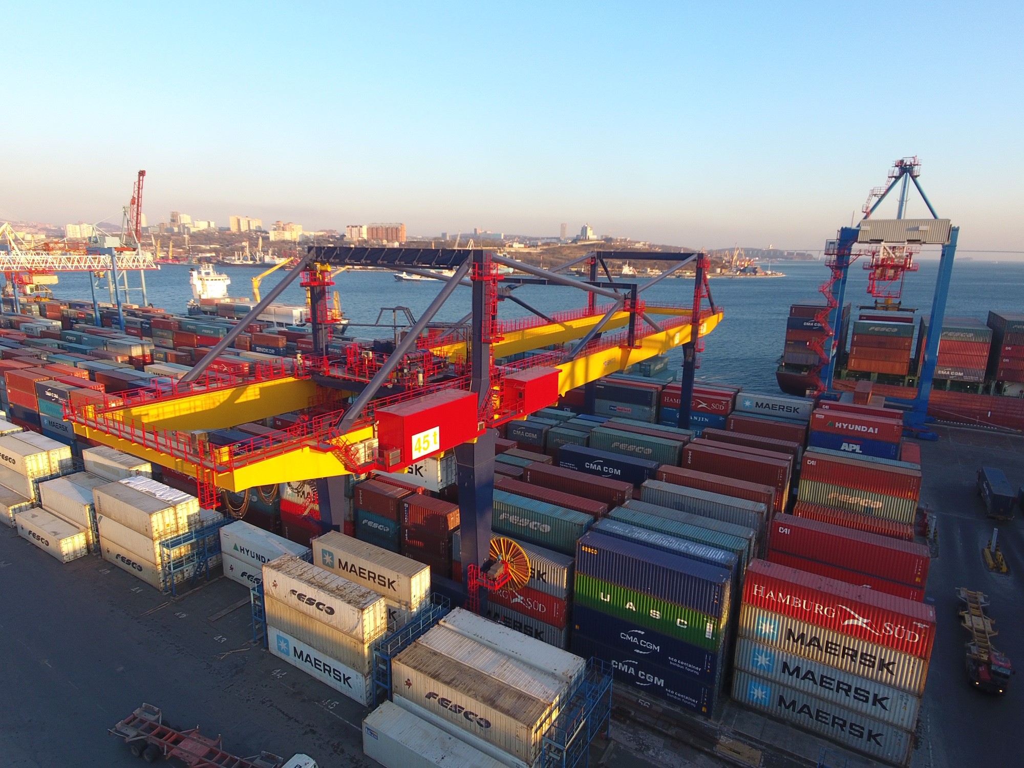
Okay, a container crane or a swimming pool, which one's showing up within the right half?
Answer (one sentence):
You can see a container crane within the right half.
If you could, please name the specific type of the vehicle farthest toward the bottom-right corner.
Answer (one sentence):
Specifically, the vehicle farthest toward the bottom-right corner is a truck.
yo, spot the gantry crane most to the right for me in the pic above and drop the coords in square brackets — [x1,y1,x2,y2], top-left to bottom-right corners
[805,152,957,440]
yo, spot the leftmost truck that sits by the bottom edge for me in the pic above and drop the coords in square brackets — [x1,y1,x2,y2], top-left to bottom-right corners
[101,700,323,768]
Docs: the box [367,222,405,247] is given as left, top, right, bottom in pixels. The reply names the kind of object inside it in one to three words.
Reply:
building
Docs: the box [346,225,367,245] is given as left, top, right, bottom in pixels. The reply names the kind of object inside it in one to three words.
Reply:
building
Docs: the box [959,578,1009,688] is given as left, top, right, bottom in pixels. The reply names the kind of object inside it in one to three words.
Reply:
truck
